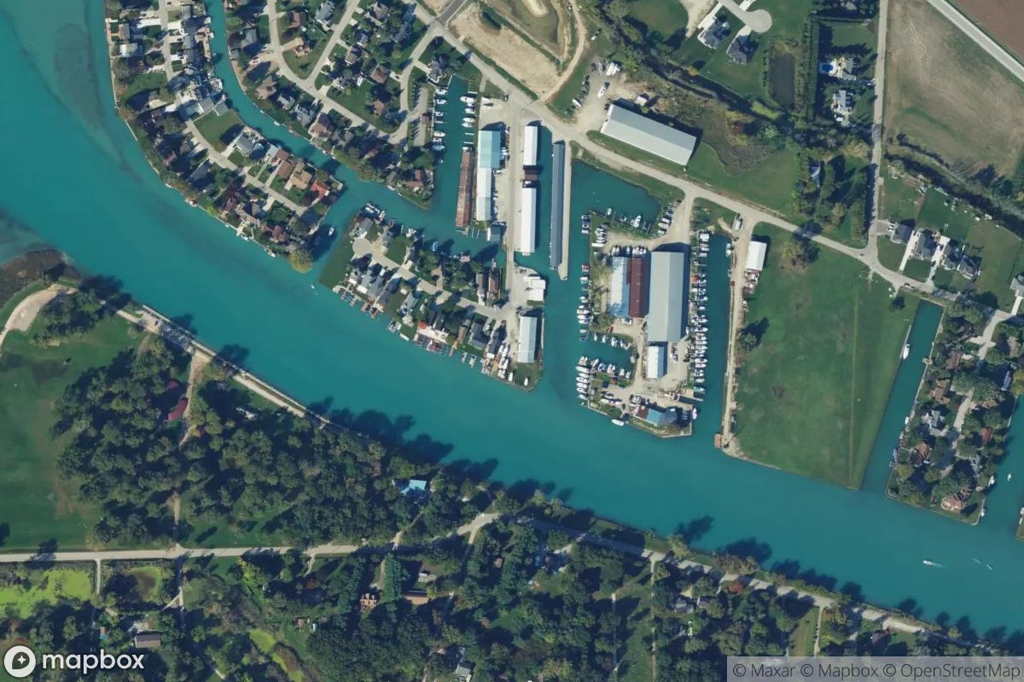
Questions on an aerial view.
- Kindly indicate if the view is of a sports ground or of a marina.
marina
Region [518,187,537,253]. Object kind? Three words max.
building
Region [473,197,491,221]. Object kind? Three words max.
building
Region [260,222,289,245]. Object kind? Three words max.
house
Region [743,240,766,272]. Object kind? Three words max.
shed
